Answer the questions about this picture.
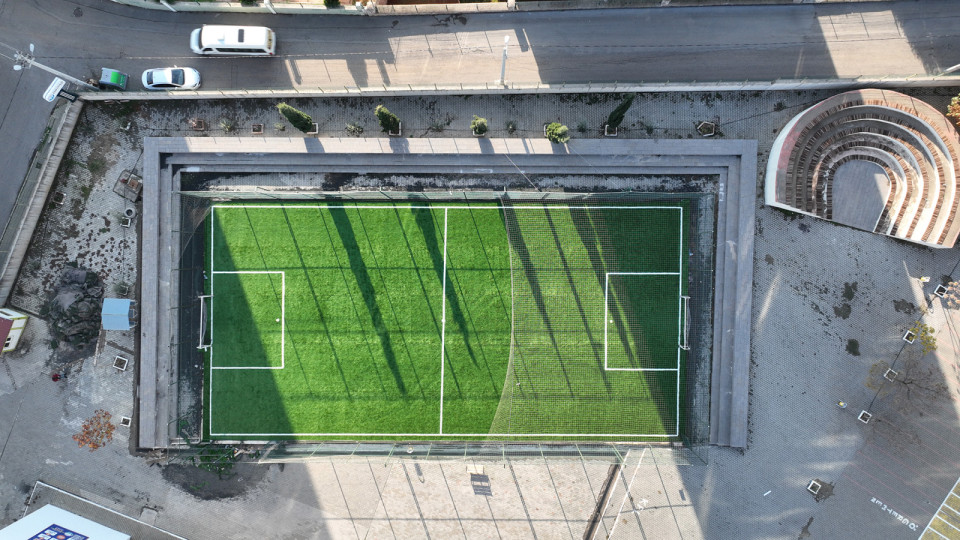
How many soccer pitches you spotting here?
one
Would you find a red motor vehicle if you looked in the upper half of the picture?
No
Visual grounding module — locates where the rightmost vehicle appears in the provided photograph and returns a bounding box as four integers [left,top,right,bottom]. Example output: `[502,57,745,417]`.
[190,25,277,60]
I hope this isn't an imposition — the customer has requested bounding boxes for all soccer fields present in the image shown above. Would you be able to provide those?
[203,199,687,445]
